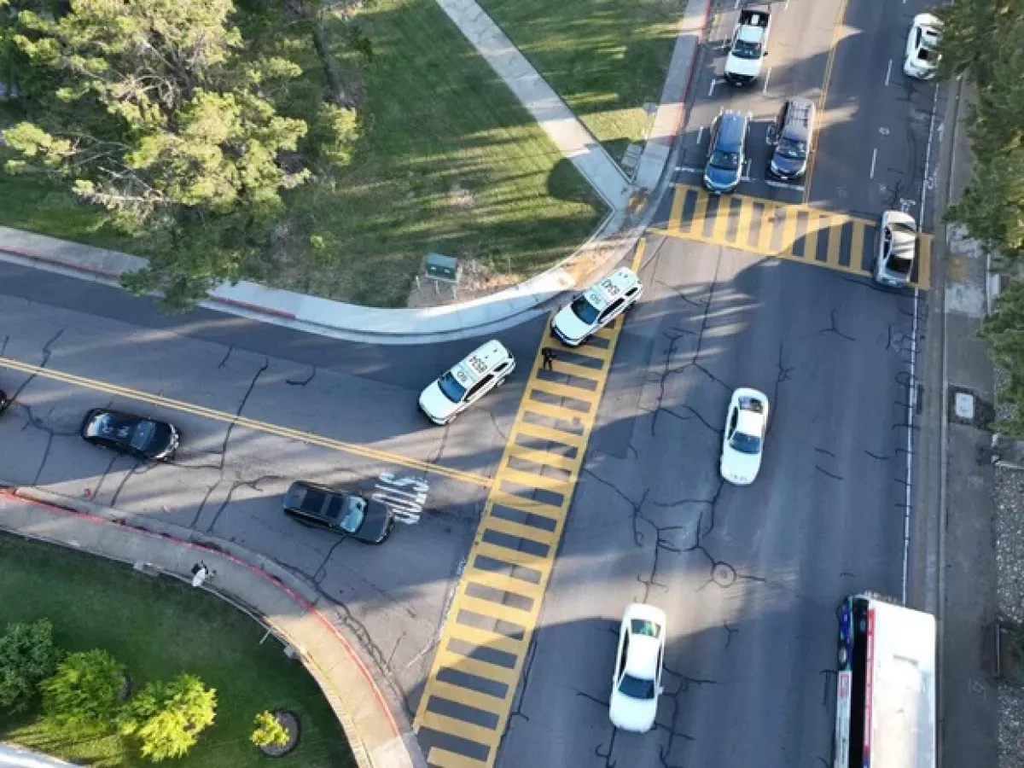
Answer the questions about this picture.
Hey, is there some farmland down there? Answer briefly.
No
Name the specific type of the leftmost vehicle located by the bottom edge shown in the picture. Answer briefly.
car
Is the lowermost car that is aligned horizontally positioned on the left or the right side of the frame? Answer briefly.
left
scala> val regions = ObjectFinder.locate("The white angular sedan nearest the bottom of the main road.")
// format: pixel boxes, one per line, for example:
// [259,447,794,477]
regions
[610,604,666,733]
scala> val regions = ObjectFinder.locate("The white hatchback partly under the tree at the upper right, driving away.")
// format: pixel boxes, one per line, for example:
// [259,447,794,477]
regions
[902,19,949,76]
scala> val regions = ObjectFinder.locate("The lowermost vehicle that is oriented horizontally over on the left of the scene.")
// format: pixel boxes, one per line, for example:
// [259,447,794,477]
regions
[279,480,396,549]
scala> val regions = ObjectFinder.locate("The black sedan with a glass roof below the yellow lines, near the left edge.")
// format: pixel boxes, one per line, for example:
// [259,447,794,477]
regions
[74,411,186,464]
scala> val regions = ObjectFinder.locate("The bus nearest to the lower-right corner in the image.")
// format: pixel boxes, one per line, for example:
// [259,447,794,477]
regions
[837,593,935,768]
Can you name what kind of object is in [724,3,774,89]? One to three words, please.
truck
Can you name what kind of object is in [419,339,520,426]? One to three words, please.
car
